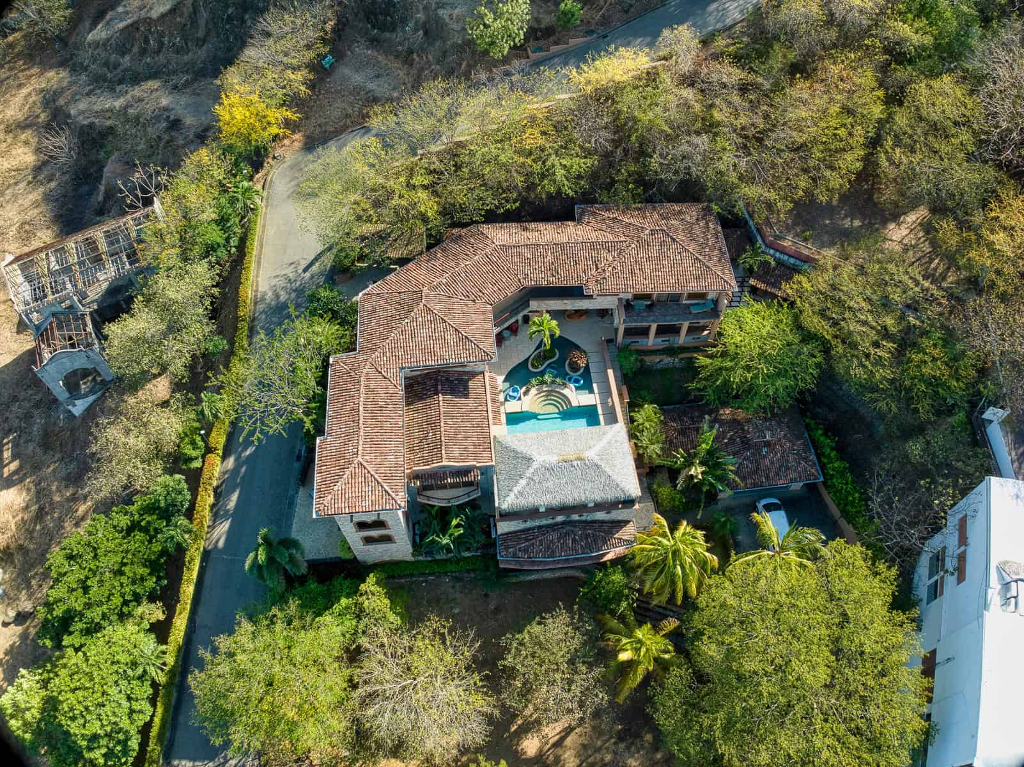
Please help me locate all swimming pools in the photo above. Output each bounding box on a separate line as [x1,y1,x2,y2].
[504,334,605,436]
